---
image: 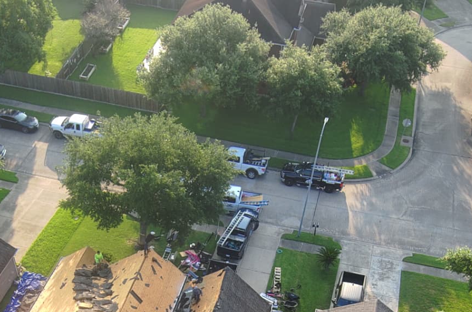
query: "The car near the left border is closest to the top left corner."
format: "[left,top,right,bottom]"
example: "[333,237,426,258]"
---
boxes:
[0,111,39,136]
